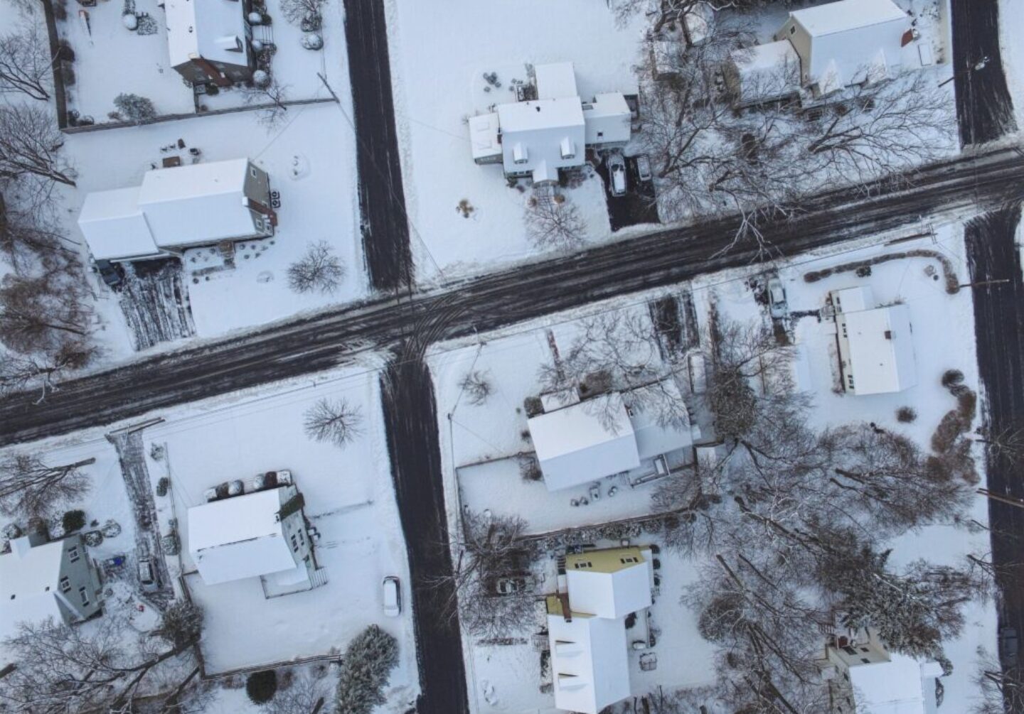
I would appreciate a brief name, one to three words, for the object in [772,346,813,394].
building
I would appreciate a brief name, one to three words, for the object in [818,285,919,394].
house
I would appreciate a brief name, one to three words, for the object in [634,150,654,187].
car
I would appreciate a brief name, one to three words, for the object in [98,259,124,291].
car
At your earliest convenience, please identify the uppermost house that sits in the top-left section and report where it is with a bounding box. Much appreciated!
[167,0,282,95]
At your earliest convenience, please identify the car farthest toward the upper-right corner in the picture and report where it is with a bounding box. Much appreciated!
[767,276,790,318]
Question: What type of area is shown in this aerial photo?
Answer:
residential area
